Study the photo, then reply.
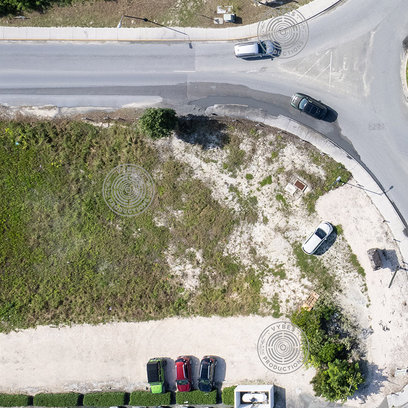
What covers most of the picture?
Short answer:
paved ground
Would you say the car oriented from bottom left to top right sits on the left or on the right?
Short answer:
right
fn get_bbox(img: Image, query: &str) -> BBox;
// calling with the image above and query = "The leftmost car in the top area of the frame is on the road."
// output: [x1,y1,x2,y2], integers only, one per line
[234,42,281,60]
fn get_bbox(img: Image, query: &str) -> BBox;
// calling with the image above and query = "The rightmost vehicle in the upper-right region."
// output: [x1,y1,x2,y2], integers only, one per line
[290,92,329,121]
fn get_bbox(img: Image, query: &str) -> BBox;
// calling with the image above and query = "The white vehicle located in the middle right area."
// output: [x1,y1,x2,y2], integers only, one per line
[301,220,334,257]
